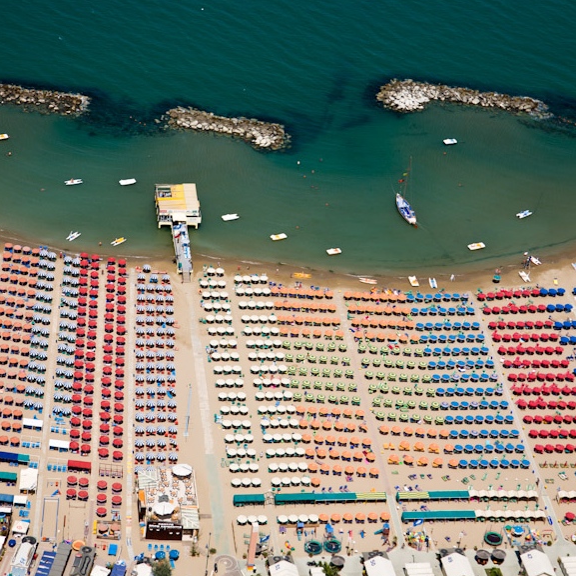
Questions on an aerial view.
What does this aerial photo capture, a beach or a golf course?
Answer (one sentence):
This image shows a beach.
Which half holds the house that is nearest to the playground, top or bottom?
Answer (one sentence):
You can find the house that is nearest to the playground in the bottom half.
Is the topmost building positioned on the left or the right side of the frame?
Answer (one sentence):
You can find the topmost building on the left side of the picture.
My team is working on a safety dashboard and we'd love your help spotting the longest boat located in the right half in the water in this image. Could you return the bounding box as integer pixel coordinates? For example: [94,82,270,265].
[395,167,418,227]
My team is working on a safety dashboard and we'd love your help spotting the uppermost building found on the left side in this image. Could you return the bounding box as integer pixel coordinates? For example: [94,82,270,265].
[155,185,200,230]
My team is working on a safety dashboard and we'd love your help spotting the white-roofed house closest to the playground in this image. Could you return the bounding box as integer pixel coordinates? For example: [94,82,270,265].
[520,551,556,576]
